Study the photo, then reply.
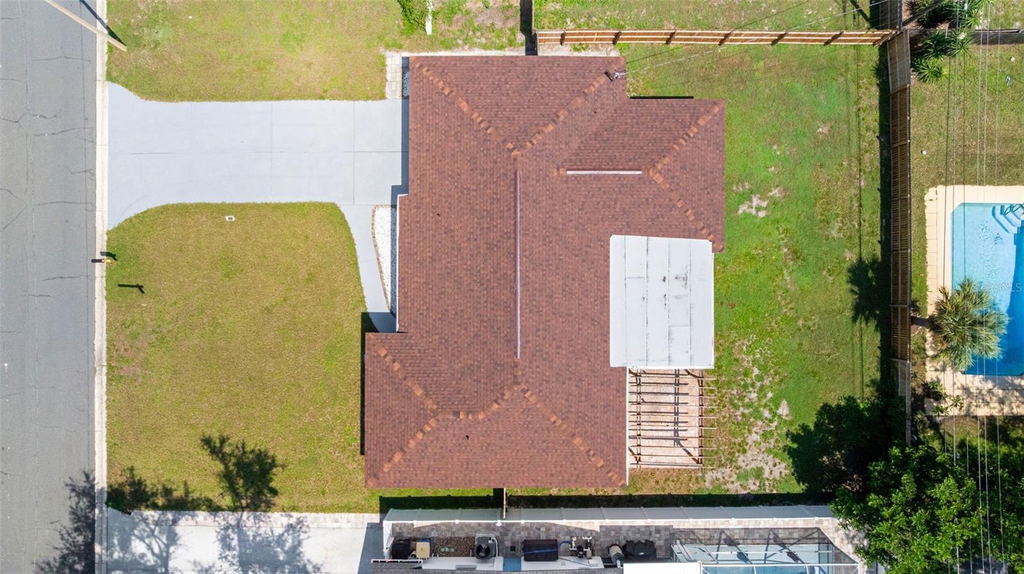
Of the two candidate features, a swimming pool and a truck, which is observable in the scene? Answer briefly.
swimming pool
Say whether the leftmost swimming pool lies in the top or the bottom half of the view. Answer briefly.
bottom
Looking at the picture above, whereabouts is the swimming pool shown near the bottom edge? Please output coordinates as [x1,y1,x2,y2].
[676,543,838,574]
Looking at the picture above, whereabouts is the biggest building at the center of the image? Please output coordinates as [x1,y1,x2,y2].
[364,55,726,489]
